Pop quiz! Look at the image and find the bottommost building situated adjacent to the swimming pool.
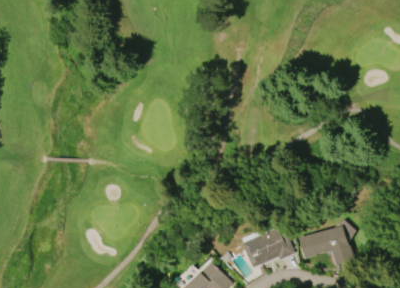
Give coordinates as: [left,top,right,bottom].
[177,258,236,288]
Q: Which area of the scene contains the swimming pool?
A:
bottom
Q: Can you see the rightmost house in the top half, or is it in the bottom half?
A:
bottom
